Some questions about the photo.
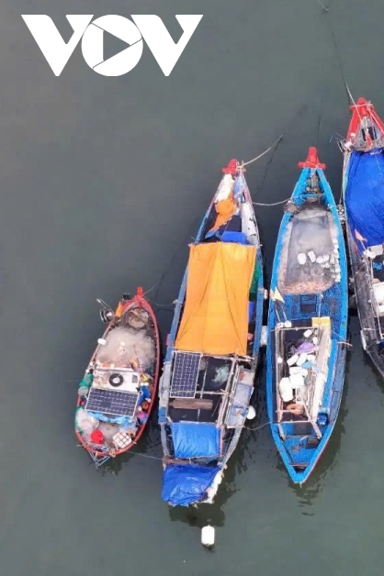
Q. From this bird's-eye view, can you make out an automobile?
No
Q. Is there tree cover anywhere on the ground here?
No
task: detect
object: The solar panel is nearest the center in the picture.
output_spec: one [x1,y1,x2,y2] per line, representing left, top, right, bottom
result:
[166,351,204,402]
